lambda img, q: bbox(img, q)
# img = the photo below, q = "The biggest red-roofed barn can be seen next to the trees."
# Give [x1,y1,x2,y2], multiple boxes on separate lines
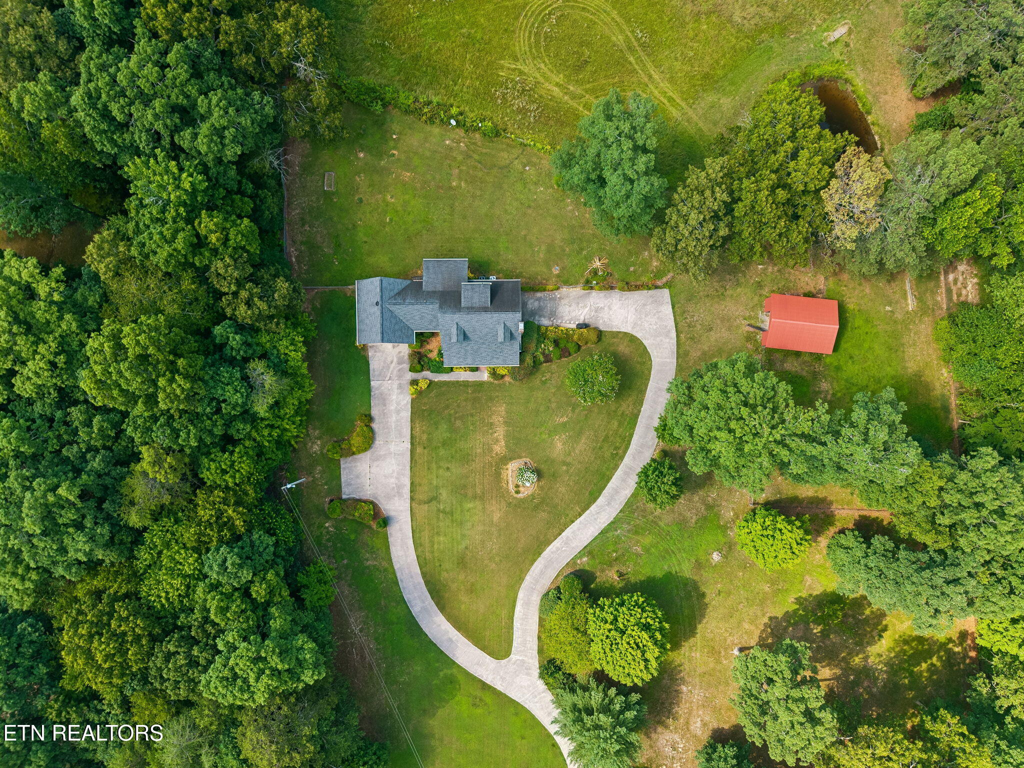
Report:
[757,294,839,354]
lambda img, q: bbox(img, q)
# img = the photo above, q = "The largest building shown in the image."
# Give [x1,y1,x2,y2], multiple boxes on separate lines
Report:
[356,258,524,369]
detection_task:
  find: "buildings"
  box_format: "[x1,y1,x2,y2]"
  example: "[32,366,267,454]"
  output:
[356,258,524,369]
[757,294,839,354]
